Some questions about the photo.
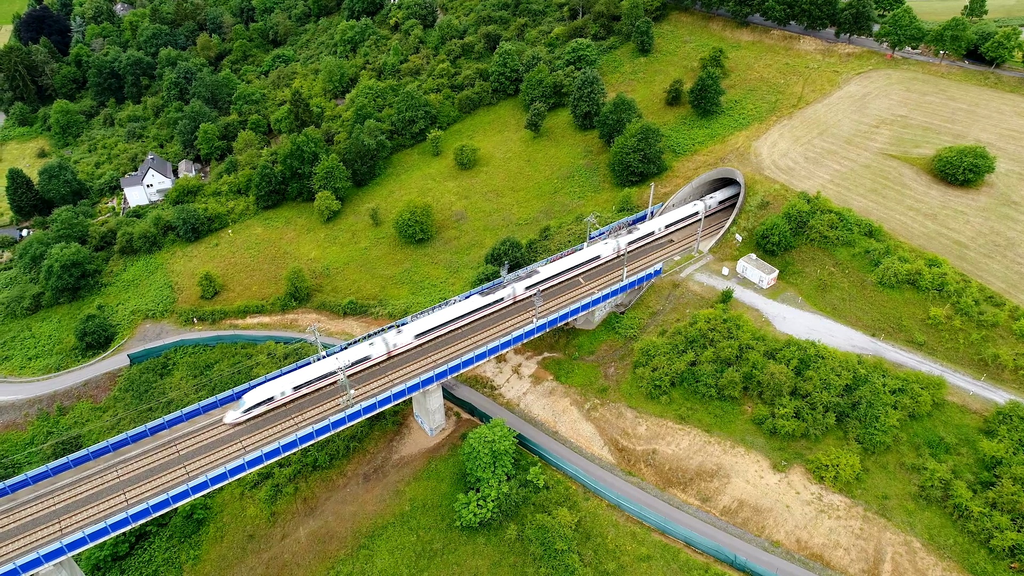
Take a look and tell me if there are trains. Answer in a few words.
Yes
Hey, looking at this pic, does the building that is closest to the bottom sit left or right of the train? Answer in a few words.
to the right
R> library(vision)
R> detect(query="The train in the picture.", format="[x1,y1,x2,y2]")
[226,186,736,426]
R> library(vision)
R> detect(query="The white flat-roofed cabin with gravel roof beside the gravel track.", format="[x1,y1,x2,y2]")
[737,255,779,290]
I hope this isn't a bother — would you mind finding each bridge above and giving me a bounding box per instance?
[0,275,658,576]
